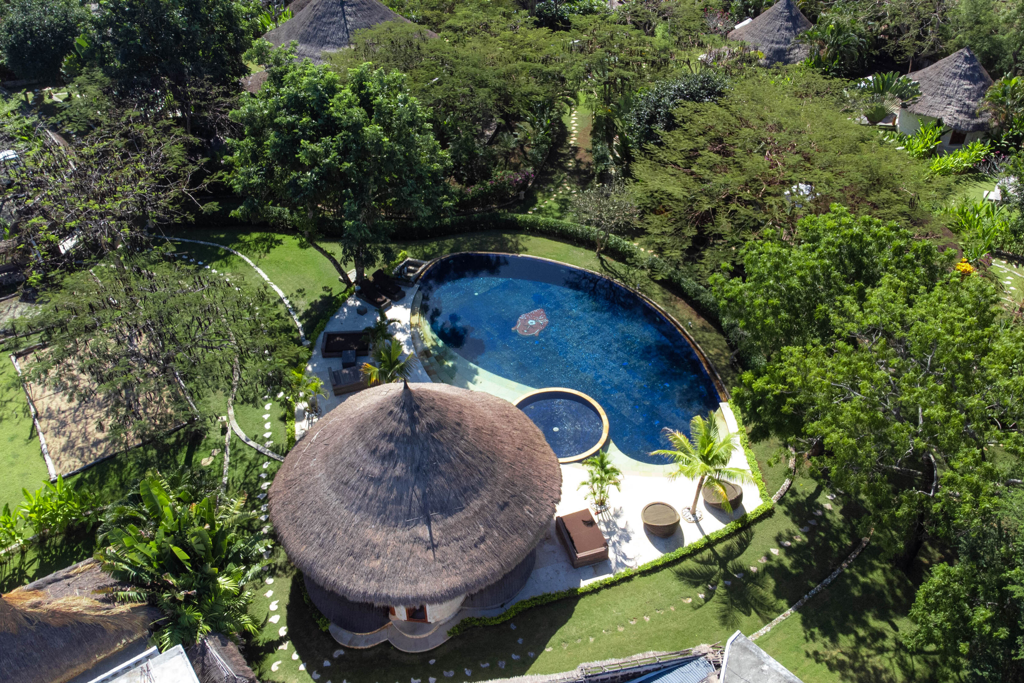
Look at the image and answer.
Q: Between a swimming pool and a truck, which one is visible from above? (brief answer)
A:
swimming pool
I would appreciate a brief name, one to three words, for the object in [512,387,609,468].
swimming pool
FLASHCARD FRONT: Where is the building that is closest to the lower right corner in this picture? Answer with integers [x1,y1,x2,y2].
[718,628,802,683]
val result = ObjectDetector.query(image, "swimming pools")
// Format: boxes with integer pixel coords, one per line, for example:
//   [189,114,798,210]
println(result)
[512,387,609,468]
[411,250,728,477]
